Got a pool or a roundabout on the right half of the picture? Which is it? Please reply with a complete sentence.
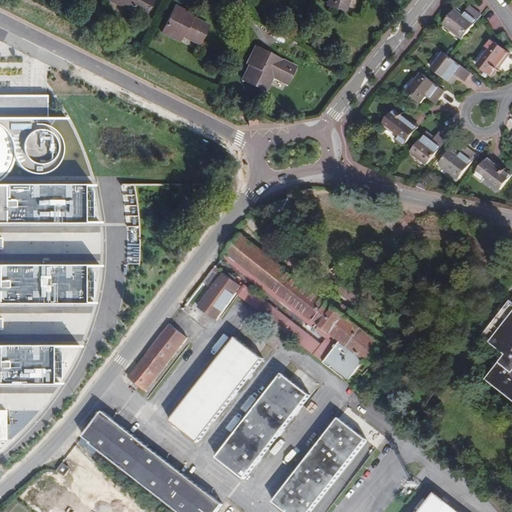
The feature located on the right half of the picture is a roundabout.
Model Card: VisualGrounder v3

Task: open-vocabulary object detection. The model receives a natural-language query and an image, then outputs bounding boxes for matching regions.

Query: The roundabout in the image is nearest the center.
[212,112,347,202]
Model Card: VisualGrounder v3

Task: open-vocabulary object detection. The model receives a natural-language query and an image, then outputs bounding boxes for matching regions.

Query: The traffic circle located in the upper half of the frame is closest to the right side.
[460,82,512,136]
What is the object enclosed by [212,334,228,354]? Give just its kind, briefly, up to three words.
vehicle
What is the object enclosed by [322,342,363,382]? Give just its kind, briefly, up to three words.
building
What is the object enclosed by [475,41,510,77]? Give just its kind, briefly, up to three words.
house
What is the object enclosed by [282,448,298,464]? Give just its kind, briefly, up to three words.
vehicle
